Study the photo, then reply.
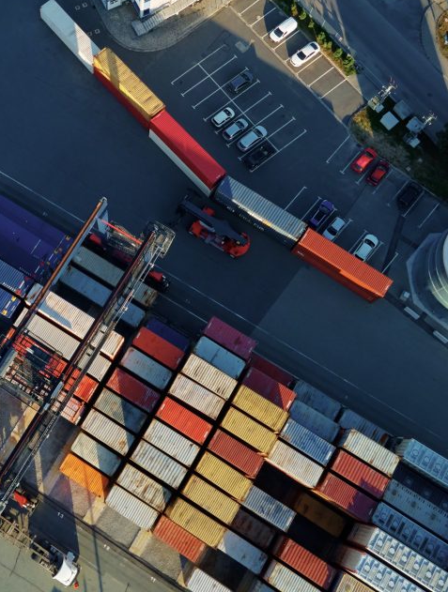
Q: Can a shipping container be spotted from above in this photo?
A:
Yes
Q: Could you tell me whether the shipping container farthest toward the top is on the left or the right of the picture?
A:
left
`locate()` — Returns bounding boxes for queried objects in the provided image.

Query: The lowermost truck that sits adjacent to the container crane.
[0,514,88,591]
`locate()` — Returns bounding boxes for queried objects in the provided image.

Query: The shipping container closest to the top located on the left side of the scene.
[36,0,99,72]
